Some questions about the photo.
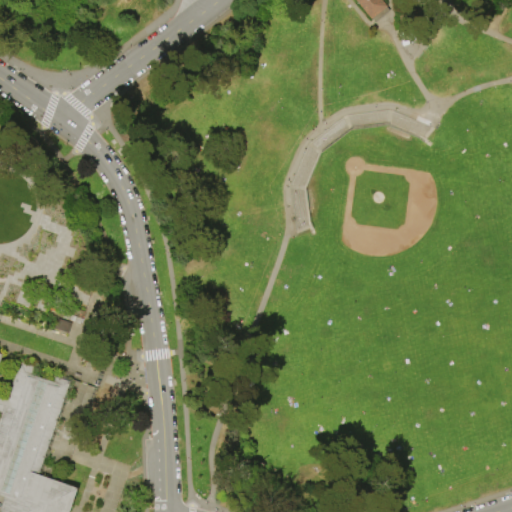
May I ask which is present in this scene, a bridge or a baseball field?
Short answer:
baseball field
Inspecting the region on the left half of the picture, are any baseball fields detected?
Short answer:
No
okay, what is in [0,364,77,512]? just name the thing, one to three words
building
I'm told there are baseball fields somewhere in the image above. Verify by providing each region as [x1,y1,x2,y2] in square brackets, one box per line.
[342,156,438,256]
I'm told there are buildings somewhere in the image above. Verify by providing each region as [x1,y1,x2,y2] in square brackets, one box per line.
[0,364,77,512]
[357,0,390,21]
[54,318,73,334]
